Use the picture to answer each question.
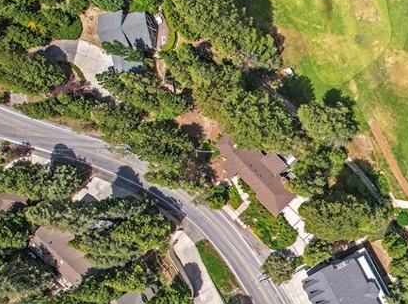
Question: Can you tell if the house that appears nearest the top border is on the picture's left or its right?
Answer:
left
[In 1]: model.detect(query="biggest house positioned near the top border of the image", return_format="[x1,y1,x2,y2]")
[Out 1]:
[97,9,164,52]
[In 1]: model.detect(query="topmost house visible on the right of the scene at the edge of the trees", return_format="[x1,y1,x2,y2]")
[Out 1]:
[216,136,298,216]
